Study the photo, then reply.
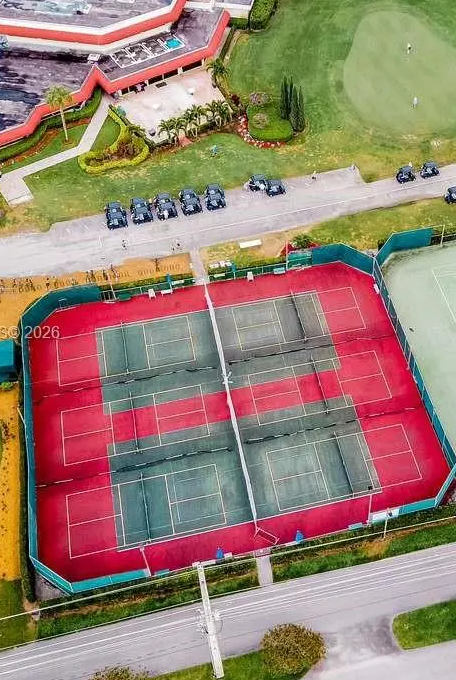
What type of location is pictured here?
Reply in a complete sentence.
This image shows a sports ground.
